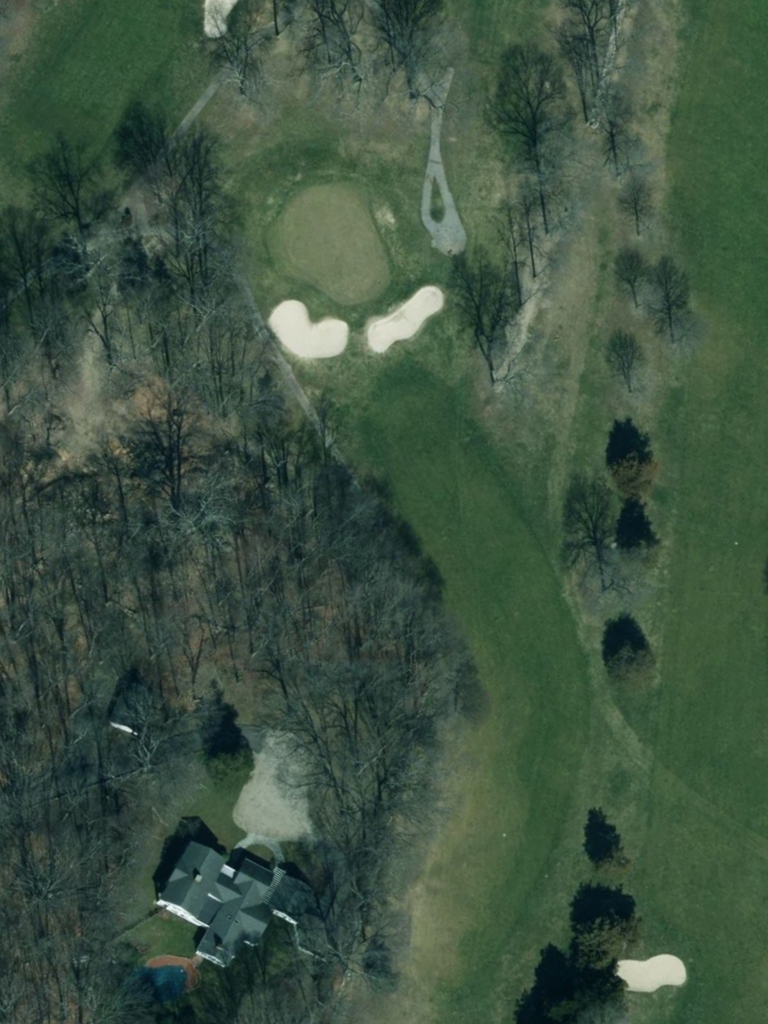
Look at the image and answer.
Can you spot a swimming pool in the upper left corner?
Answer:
No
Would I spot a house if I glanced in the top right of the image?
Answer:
No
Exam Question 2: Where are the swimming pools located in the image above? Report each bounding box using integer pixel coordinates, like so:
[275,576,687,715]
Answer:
[130,954,202,1006]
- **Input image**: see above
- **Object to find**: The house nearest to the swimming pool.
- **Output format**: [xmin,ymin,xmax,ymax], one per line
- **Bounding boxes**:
[160,843,311,966]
